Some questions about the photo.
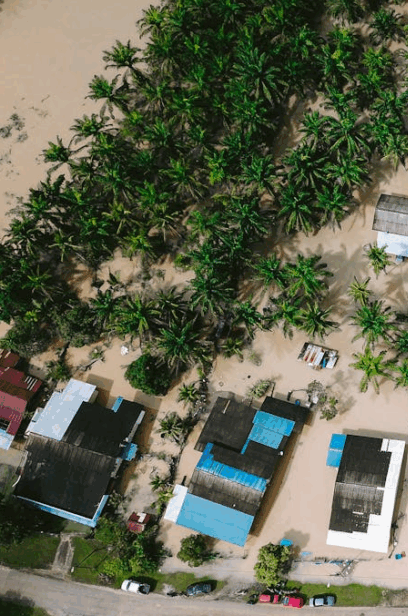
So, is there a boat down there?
No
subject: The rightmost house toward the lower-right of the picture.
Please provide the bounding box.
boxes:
[326,433,405,553]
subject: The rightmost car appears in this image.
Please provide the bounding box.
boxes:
[309,593,337,607]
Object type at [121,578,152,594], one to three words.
vehicle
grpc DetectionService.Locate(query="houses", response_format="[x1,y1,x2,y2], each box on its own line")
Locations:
[15,379,149,526]
[164,396,312,547]
[326,433,405,553]
[372,194,408,257]
[0,349,50,450]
